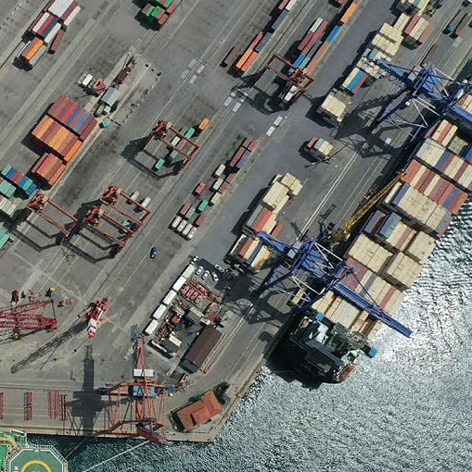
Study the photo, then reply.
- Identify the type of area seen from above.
port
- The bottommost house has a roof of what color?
red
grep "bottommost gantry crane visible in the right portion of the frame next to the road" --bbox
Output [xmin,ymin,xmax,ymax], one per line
[240,224,410,347]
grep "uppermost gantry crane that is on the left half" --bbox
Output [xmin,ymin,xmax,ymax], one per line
[137,115,203,178]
